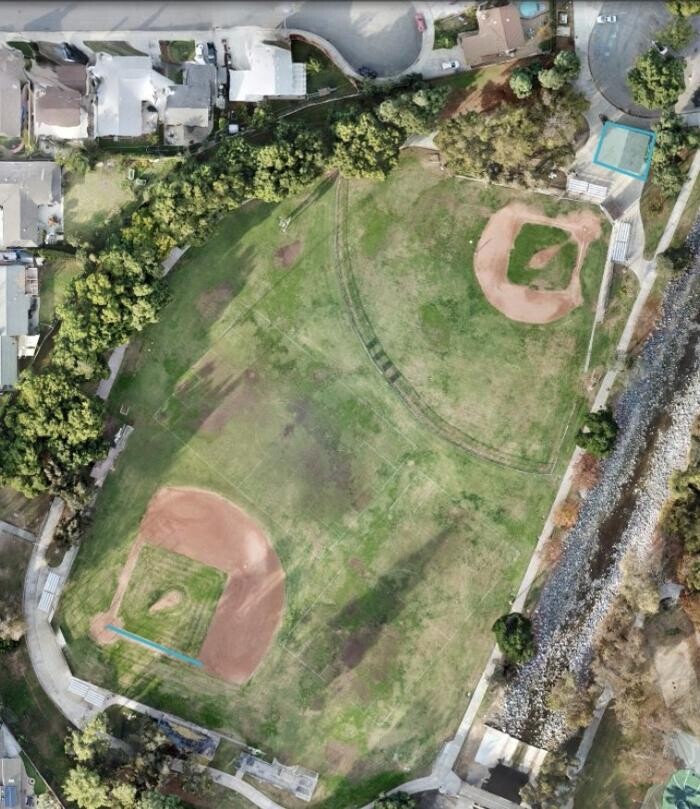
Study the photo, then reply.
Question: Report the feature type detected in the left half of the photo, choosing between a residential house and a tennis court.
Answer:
residential house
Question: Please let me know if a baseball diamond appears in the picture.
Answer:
Yes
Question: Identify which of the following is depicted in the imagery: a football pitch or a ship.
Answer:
football pitch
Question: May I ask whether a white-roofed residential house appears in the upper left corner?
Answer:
Yes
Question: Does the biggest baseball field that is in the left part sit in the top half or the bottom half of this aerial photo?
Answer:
bottom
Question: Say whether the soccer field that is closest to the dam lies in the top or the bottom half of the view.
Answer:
bottom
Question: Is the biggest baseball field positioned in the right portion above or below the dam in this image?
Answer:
above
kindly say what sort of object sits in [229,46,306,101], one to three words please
house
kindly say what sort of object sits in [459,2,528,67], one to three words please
house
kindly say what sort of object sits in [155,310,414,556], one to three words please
soccer field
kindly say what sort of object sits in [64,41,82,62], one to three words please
car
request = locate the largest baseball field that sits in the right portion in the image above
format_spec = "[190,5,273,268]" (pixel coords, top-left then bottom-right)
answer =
[337,160,610,472]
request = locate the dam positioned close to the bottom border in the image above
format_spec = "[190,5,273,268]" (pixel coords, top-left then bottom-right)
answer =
[474,728,551,809]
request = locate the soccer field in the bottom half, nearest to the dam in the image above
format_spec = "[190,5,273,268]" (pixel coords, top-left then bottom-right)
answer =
[283,474,520,722]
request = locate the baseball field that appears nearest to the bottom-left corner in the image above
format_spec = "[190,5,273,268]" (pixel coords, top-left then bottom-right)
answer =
[60,460,307,726]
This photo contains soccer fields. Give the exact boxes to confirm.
[155,310,414,556]
[283,474,520,722]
